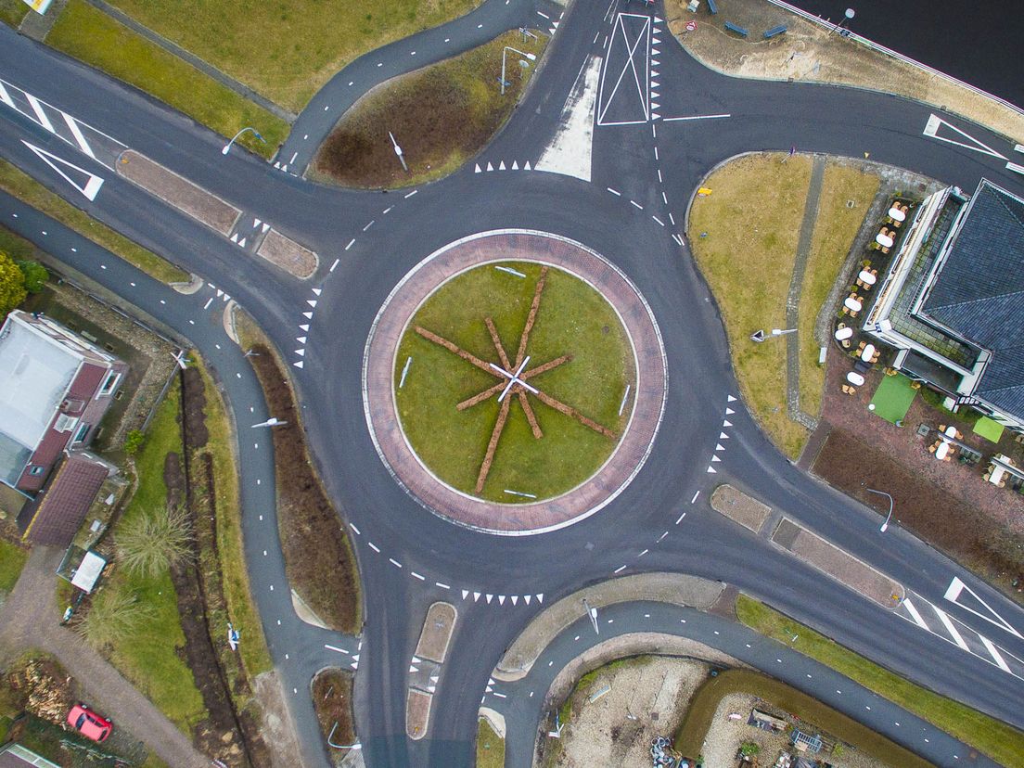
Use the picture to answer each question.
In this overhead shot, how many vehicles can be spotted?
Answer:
1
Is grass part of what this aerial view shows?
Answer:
Yes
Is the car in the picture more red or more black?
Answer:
red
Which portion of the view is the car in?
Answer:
bottom left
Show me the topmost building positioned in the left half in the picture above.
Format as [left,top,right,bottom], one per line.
[0,314,128,488]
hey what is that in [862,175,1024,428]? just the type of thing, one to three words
building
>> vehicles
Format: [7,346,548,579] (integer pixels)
[68,702,116,741]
